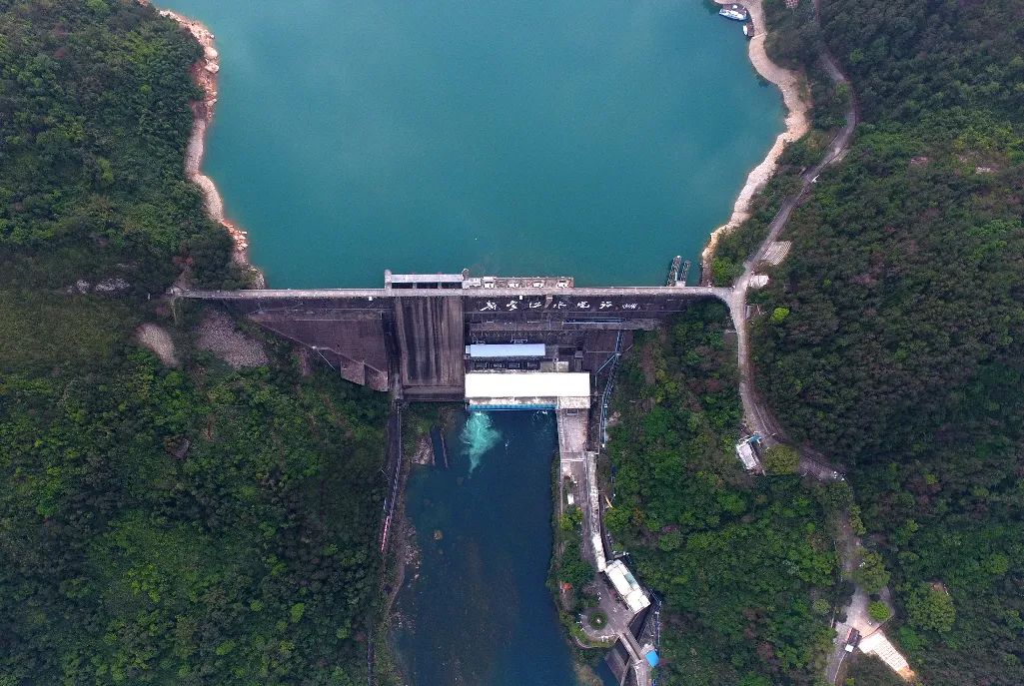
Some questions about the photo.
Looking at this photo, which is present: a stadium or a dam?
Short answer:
dam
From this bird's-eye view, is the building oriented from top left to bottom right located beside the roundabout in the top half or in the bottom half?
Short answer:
bottom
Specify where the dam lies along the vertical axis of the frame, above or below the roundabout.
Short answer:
above it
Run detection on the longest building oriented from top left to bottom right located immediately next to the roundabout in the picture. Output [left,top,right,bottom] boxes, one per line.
[604,560,650,614]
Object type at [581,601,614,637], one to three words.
roundabout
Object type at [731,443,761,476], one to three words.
house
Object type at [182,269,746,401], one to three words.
dam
